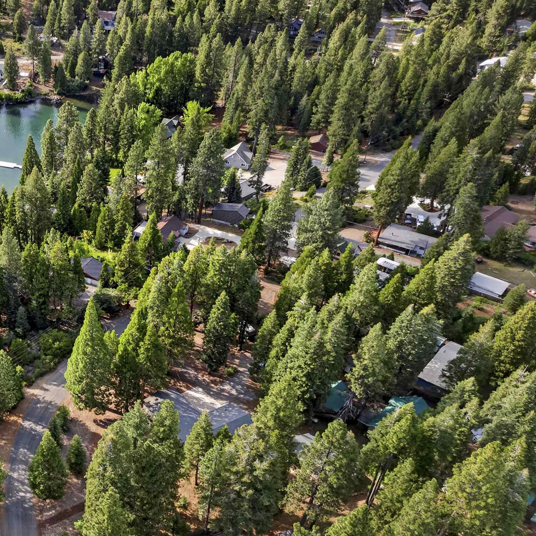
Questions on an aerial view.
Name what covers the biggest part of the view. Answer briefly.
trees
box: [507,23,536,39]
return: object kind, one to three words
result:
house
